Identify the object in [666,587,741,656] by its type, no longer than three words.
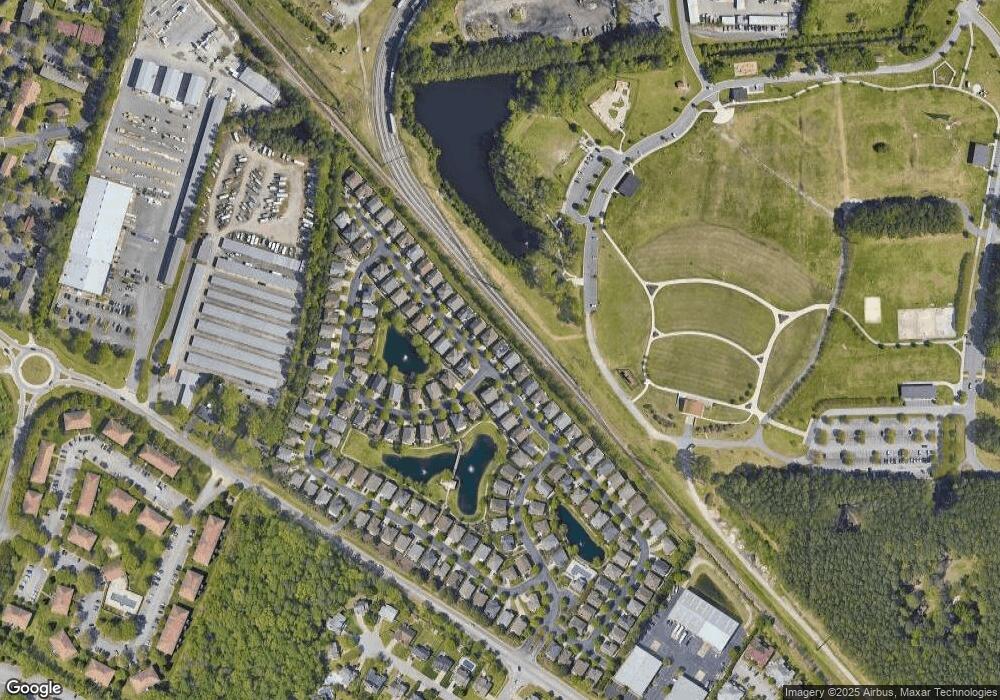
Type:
building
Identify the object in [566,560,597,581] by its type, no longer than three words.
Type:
swimming pool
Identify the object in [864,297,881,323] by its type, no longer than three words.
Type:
sports court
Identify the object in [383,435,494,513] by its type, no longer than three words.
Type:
pond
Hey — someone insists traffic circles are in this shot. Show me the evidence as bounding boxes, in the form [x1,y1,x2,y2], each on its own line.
[9,343,66,399]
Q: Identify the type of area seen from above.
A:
residential area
